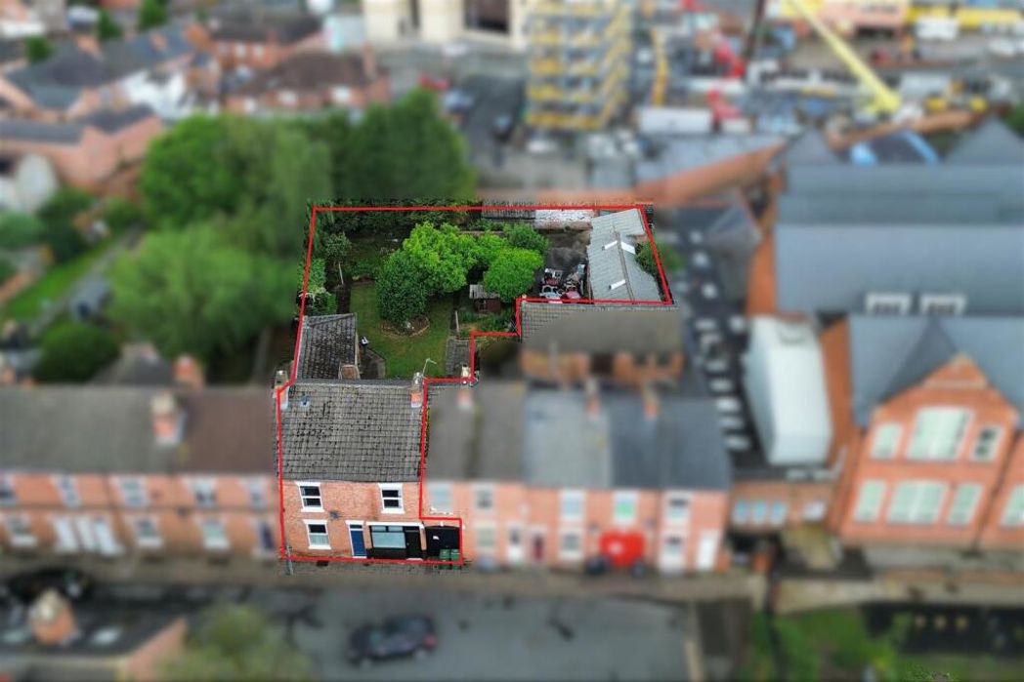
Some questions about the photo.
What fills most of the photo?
buildings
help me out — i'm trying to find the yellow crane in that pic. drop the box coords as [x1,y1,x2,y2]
[810,0,919,117]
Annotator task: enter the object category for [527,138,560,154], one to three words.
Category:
car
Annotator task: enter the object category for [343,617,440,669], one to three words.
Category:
car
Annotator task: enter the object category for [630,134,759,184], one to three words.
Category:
building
